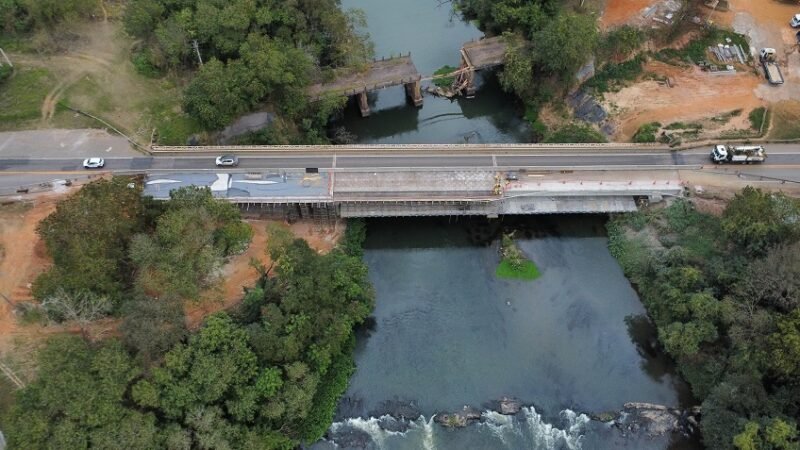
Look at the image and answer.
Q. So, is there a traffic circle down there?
No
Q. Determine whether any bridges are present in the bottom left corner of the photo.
No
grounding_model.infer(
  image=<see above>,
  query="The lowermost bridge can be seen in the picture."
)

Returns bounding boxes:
[118,141,702,220]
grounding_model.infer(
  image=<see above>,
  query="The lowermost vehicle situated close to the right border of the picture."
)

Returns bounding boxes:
[711,146,772,165]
